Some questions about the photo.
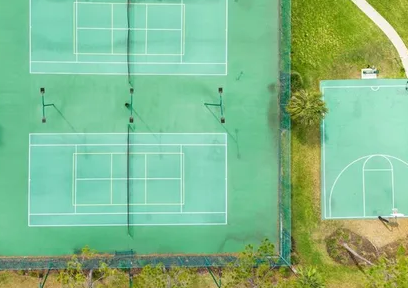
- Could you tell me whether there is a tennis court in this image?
Yes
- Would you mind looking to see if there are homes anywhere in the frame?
No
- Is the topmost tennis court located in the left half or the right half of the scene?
left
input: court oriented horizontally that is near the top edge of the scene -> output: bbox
[30,0,227,75]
